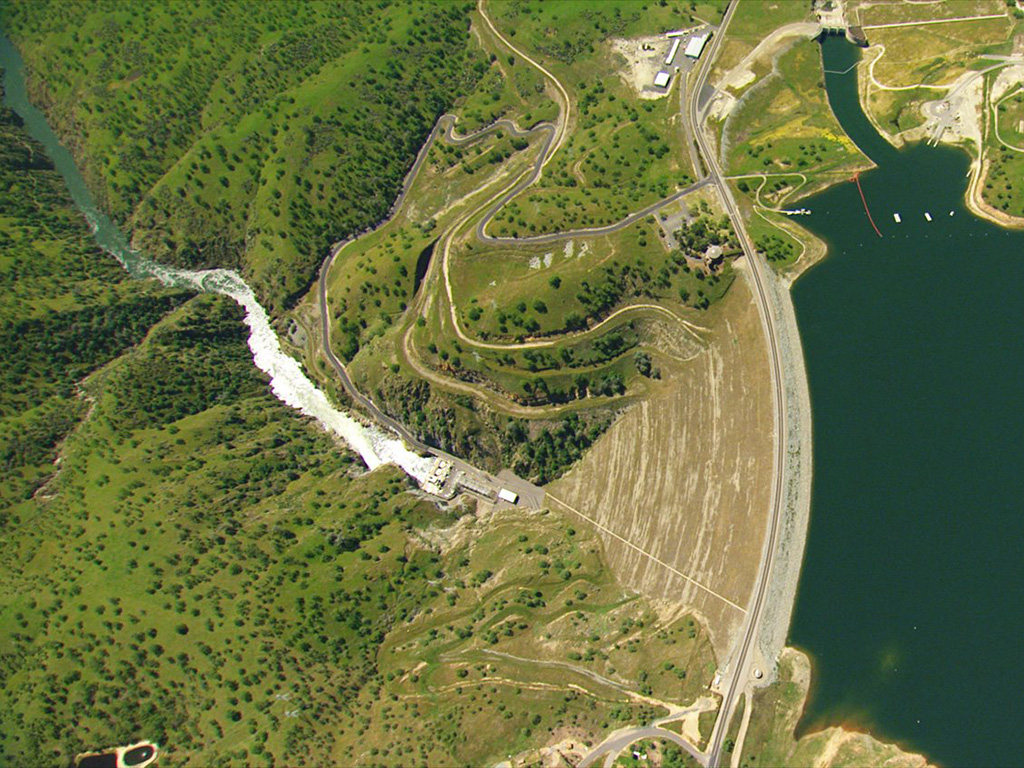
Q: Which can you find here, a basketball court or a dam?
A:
dam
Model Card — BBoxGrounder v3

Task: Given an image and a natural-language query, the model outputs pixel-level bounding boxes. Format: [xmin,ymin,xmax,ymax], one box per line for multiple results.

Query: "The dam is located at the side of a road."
[545,254,811,672]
